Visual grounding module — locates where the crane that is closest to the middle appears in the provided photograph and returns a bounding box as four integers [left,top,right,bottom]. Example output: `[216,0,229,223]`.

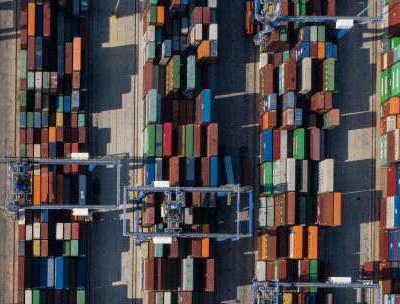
[123,177,252,250]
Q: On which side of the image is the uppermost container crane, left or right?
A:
right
